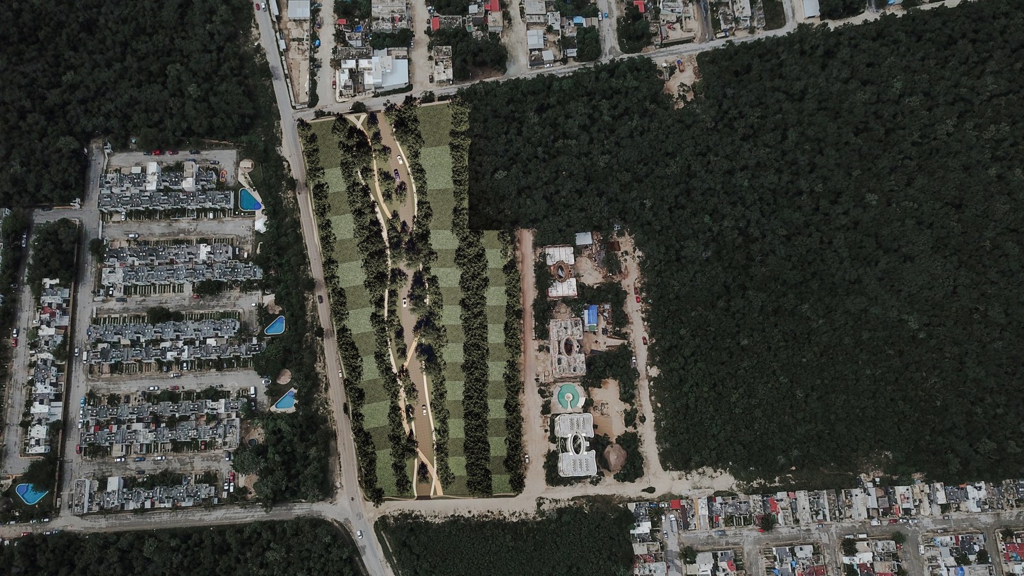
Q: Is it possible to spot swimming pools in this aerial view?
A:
Yes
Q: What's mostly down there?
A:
trees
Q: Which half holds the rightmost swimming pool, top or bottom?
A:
bottom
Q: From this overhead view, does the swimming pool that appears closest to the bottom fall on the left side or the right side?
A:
left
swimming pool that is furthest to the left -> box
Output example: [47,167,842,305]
[16,484,49,505]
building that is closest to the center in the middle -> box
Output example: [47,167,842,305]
[545,246,577,301]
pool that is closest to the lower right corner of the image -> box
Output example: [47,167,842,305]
[557,385,580,410]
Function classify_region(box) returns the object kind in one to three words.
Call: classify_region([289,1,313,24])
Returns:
building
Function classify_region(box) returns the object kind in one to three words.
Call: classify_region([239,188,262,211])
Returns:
swimming pool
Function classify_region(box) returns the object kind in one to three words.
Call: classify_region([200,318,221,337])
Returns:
house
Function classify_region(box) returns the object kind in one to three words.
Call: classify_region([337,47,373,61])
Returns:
shed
